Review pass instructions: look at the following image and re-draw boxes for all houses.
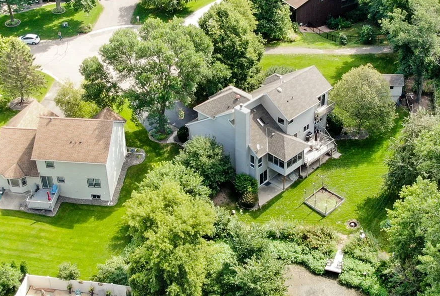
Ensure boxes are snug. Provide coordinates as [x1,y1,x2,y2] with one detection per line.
[280,0,350,22]
[0,99,142,214]
[187,61,351,192]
